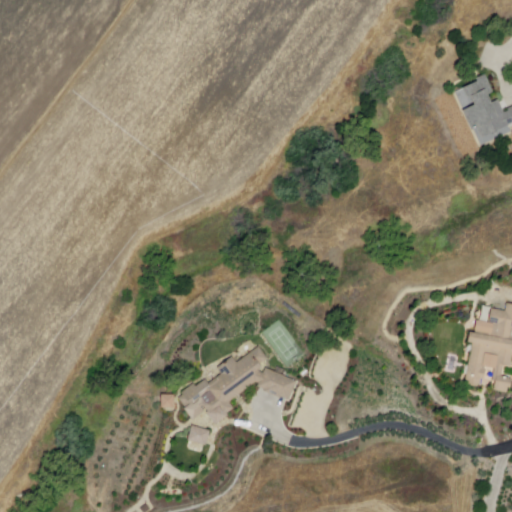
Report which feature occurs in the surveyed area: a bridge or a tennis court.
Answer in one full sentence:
The one in the frame is a tennis court.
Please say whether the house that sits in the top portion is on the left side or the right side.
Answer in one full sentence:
The house that sits in the top portion is on the right side of the image.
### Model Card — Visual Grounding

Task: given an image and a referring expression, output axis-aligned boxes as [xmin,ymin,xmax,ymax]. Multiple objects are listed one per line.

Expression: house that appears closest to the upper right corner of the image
[456,76,512,145]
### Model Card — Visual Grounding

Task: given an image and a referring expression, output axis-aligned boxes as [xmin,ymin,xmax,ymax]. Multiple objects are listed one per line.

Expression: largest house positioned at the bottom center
[177,348,300,426]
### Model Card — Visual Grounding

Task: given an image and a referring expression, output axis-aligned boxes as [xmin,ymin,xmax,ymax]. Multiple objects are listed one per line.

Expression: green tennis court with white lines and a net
[262,321,303,366]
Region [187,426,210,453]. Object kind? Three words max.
house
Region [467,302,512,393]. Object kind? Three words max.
house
